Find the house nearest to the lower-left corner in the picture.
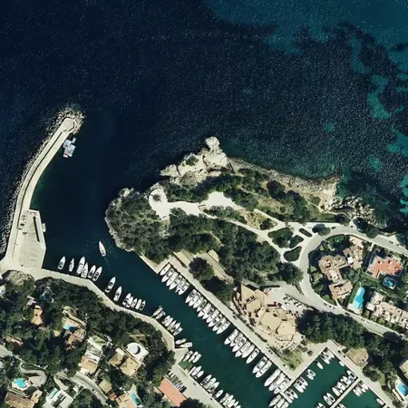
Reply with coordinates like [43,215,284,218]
[3,376,42,408]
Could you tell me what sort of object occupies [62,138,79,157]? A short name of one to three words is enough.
ship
